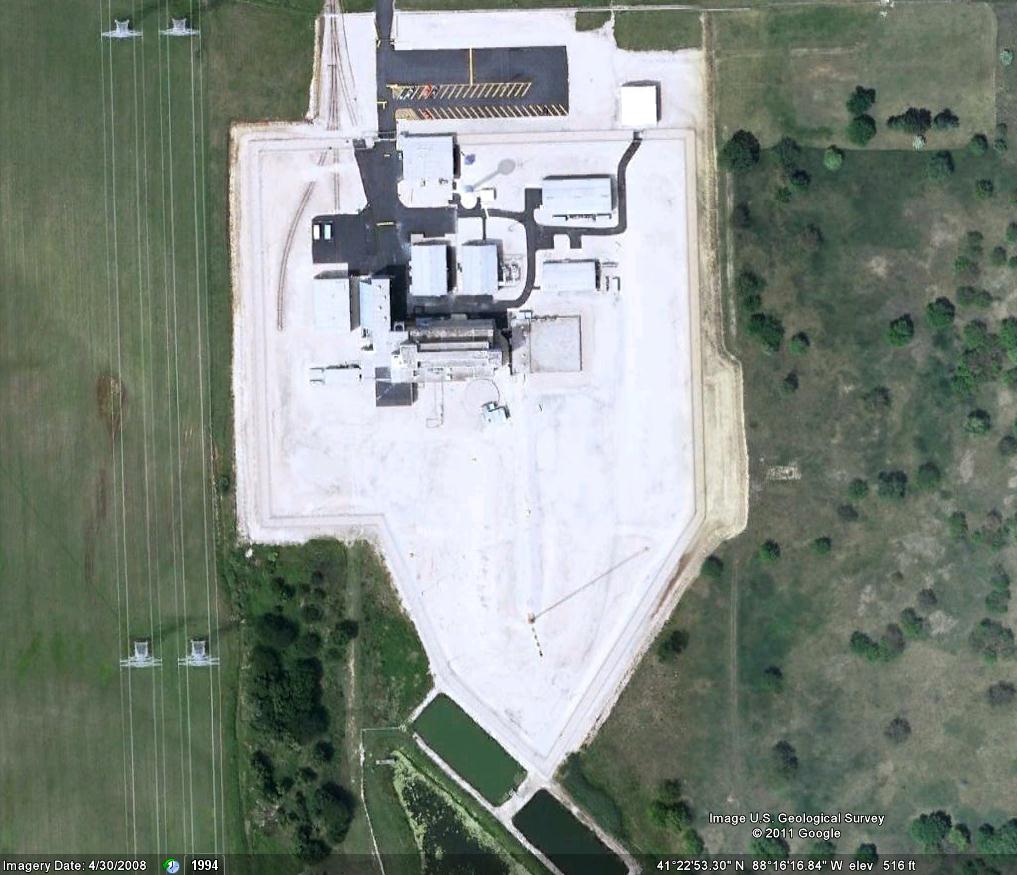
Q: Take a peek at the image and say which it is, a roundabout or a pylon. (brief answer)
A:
pylon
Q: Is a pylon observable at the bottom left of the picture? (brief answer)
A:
Yes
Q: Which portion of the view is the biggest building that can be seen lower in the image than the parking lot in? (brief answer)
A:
center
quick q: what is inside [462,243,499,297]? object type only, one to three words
building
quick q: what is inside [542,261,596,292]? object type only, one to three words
building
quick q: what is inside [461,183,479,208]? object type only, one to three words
water tower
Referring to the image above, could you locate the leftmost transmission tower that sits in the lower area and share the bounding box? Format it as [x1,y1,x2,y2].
[121,634,162,667]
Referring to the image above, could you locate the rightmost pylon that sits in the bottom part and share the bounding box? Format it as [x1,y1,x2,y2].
[178,633,219,666]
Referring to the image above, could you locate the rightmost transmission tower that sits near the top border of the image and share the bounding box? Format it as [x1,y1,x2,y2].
[159,10,201,38]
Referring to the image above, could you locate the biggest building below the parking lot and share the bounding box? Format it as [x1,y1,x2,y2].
[372,312,502,406]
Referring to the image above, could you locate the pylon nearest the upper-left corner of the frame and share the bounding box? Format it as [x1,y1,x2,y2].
[100,11,142,39]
